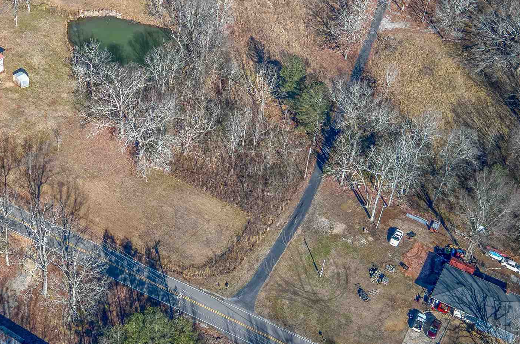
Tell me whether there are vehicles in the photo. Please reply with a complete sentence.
Yes, the image includes a vehicle.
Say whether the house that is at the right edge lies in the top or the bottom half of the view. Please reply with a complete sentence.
The house that is at the right edge sits in the bottom half of the picture.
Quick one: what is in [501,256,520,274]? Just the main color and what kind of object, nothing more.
white car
